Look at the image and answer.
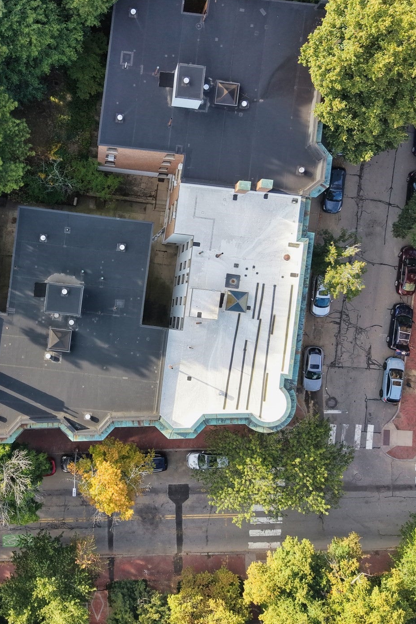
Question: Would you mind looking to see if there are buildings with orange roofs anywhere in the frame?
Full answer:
No, there appears to be no building with an orange roof in this shot.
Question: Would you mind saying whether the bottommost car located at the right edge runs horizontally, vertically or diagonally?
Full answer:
The bottommost car located at the right edge is oriented vertically.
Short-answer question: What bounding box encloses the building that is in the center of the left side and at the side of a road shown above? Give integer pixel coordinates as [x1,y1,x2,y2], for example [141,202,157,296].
[0,205,167,442]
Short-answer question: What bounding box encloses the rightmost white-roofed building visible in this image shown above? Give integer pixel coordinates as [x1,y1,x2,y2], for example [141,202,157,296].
[153,155,313,438]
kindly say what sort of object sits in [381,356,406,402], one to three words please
car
